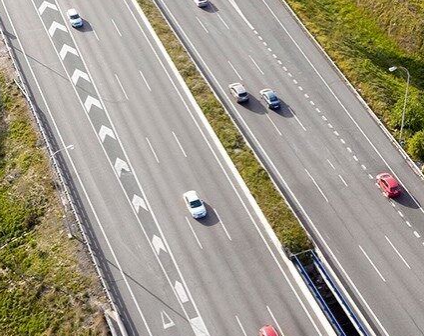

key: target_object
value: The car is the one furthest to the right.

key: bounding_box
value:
[378,174,406,199]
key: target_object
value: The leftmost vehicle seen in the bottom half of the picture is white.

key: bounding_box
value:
[183,189,208,219]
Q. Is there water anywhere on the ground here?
No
